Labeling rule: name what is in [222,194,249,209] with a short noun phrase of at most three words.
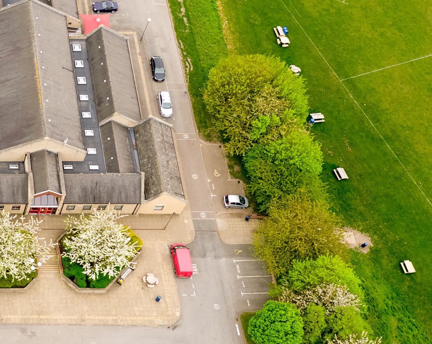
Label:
car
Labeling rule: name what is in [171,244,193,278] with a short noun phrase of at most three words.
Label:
vehicle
